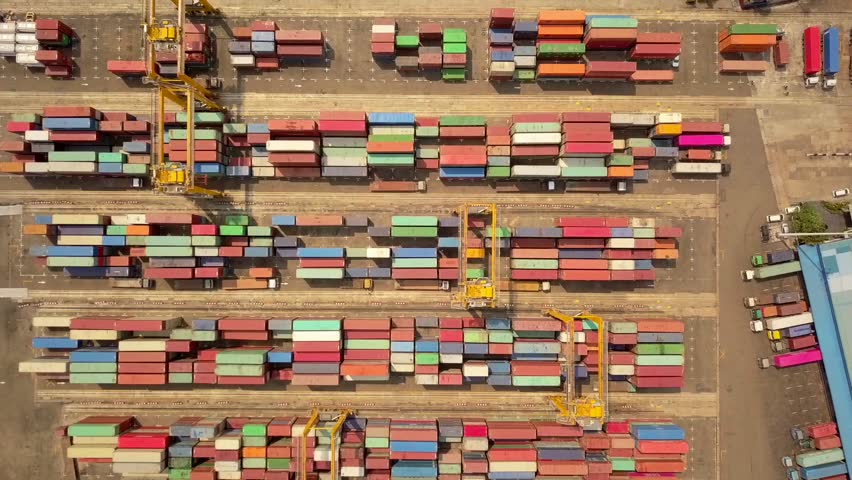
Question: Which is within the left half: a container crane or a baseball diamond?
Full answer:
Looking within the left half, you will find a container crane.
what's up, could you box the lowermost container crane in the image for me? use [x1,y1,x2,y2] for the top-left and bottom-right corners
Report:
[296,408,355,480]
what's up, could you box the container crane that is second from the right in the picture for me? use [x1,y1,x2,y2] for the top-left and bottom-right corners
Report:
[448,203,498,309]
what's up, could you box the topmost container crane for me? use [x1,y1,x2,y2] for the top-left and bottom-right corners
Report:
[146,0,223,97]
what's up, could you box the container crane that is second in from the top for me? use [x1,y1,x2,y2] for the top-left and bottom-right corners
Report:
[154,88,231,197]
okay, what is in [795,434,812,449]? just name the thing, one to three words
vehicle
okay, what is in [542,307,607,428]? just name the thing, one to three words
container crane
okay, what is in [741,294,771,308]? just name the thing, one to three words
vehicle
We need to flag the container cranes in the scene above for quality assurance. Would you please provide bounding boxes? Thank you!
[296,408,355,480]
[448,203,498,309]
[154,88,231,197]
[542,307,607,428]
[146,0,223,97]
